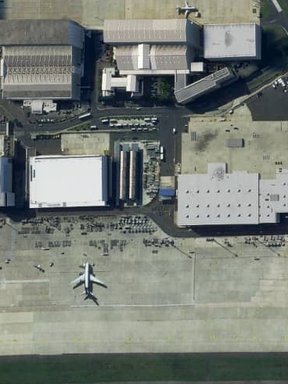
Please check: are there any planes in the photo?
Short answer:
Yes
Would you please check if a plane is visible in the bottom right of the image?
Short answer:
No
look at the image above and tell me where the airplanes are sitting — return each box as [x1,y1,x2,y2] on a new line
[69,261,105,294]
[177,0,197,17]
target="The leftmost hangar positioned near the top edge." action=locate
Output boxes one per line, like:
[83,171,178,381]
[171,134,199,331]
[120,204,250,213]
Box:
[0,19,89,102]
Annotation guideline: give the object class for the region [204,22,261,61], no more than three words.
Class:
hangar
